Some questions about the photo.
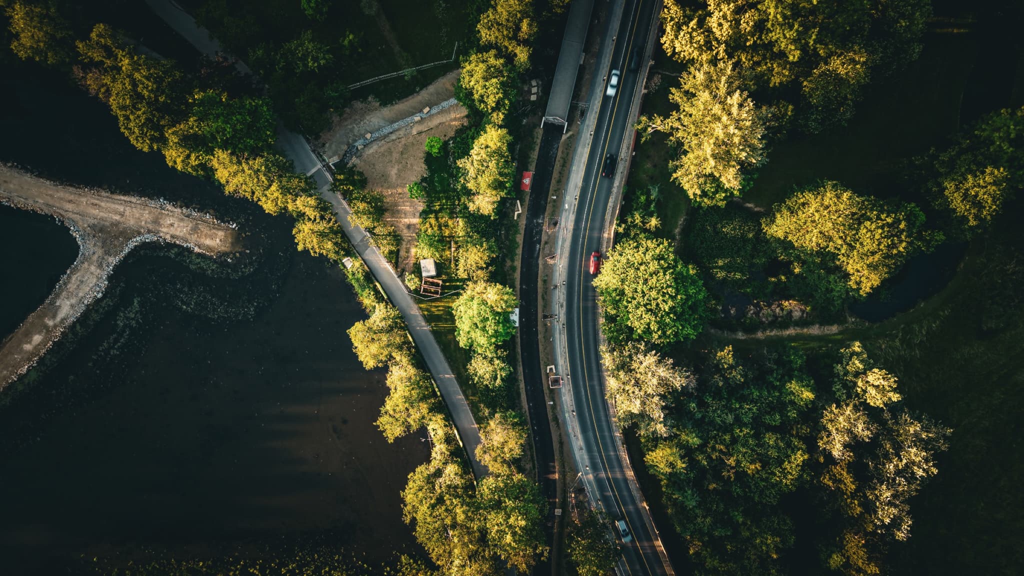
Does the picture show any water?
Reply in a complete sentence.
Yes, water shows up in the scene.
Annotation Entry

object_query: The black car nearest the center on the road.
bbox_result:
[603,153,616,177]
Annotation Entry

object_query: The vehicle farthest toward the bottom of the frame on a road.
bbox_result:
[616,519,632,544]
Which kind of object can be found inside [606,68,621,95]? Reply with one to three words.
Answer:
car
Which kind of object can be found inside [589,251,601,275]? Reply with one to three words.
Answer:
vehicle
